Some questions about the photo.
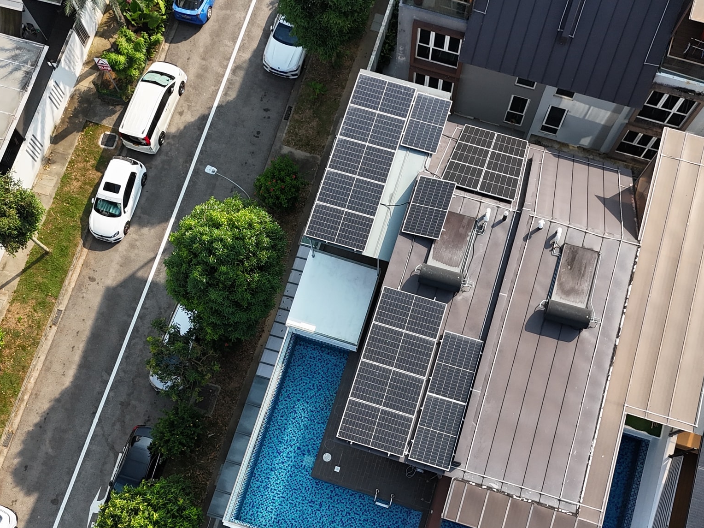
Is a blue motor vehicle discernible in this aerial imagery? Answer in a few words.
Yes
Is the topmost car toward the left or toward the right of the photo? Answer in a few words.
left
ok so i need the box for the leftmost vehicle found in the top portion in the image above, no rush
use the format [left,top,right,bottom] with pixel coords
[88,152,149,243]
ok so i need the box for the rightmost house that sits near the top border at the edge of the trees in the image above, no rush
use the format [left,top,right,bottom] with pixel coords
[394,0,704,181]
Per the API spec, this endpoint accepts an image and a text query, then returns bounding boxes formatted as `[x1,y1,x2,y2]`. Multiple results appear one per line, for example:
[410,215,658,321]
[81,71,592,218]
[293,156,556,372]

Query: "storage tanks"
[545,293,595,323]
[418,259,463,288]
